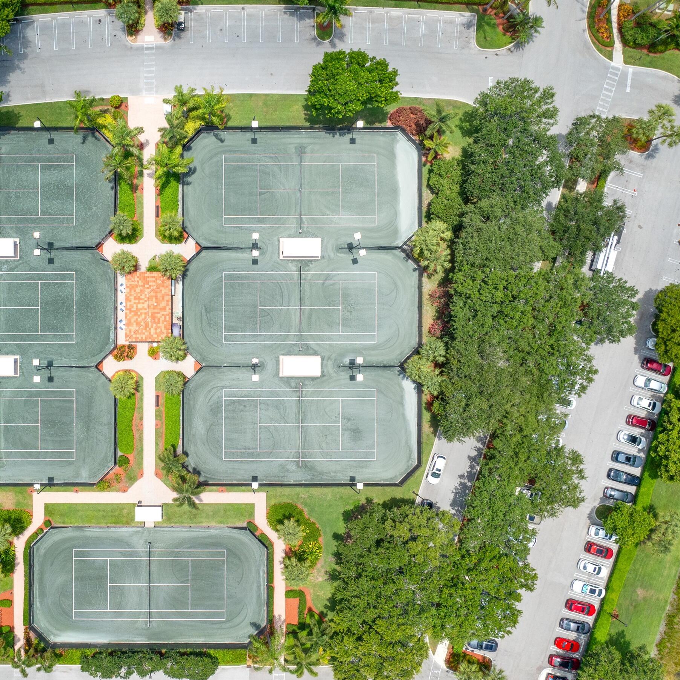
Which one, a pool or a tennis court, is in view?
tennis court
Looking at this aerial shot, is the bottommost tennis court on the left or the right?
left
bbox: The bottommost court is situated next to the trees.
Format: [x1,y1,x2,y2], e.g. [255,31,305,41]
[33,529,265,641]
